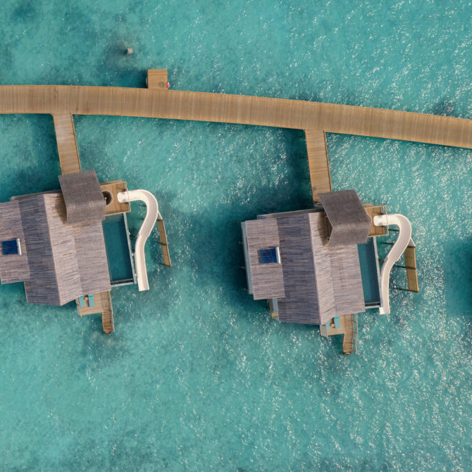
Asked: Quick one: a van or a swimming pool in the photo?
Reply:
swimming pool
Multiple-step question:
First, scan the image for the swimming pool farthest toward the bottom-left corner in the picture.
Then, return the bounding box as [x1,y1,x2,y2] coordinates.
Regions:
[101,212,136,286]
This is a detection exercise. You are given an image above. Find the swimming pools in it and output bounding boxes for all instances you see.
[359,238,382,307]
[101,212,136,286]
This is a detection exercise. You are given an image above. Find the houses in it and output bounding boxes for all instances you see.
[0,169,131,333]
[234,190,389,355]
